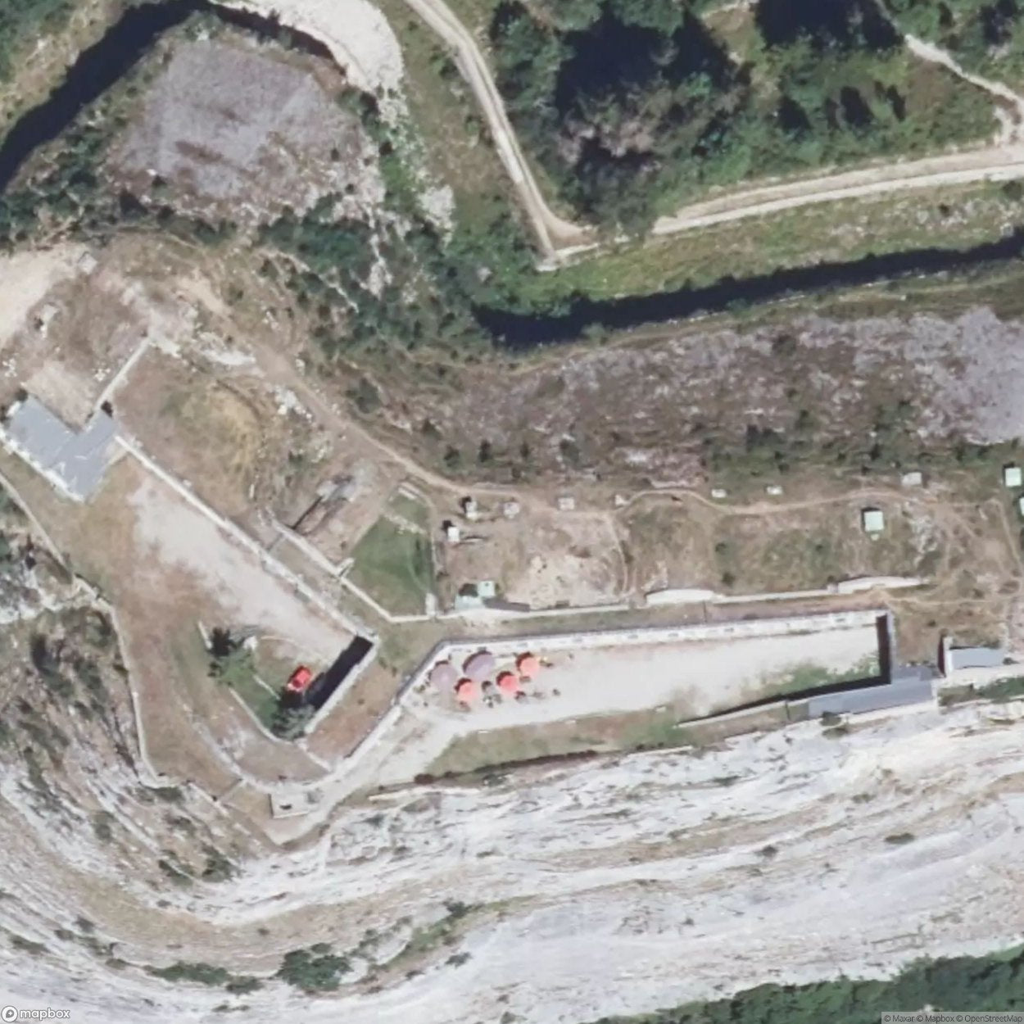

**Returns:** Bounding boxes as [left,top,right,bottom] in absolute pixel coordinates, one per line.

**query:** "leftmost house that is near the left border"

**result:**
[8,394,80,470]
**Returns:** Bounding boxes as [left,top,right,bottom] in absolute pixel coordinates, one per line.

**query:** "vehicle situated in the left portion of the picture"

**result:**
[286,665,310,693]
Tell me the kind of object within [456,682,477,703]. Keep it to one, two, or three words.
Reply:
umbrella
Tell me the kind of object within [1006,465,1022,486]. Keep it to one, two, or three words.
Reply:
shed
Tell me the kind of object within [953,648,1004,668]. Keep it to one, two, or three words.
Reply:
house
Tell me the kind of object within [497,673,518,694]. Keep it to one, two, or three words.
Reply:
umbrella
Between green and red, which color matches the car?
red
